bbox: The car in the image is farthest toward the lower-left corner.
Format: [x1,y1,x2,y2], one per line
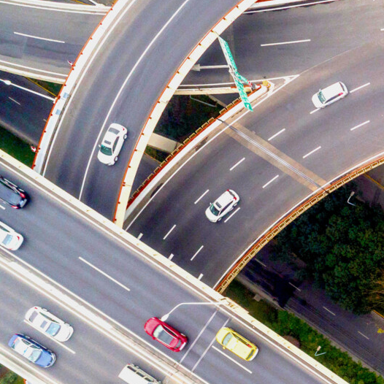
[2,328,63,370]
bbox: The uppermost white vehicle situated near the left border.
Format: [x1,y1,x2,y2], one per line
[0,216,33,255]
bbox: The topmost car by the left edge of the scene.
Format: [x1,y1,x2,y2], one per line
[0,169,34,209]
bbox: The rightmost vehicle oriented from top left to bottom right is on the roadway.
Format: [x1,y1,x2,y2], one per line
[212,324,264,366]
